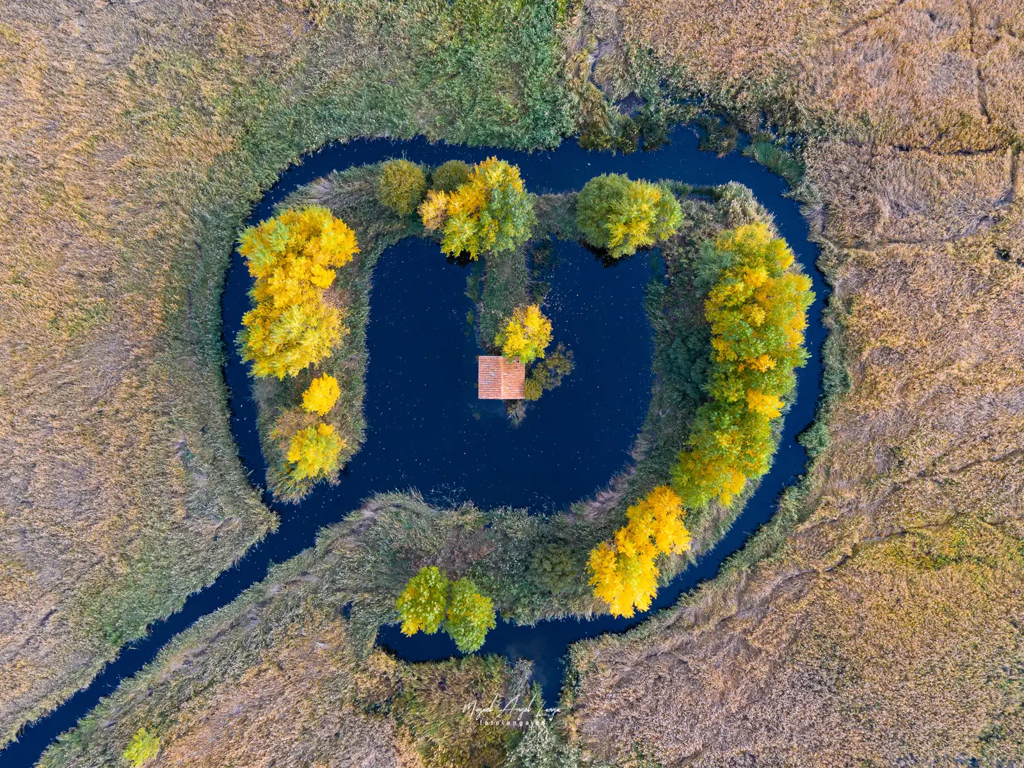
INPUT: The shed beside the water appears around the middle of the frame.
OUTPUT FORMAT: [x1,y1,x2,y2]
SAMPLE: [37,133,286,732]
[478,355,526,401]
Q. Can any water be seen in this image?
Yes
